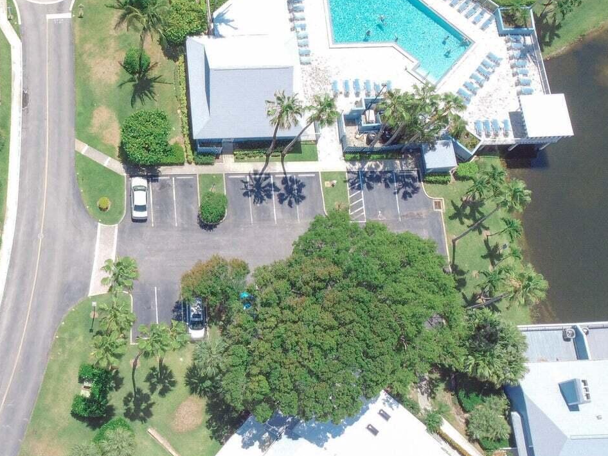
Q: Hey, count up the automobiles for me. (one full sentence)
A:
My tally gives 2 automobiles in this view.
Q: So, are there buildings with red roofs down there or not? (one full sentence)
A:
No, this view has no building with a red roof in it.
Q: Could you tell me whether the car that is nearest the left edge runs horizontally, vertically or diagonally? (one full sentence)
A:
The car that is nearest the left edge has been laid out vertically relative to the frame.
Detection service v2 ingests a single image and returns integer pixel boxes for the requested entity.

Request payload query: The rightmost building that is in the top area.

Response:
[513,94,575,144]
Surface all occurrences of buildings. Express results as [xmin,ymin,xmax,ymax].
[417,139,457,174]
[218,394,454,456]
[513,94,575,144]
[186,35,305,155]
[493,321,608,456]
